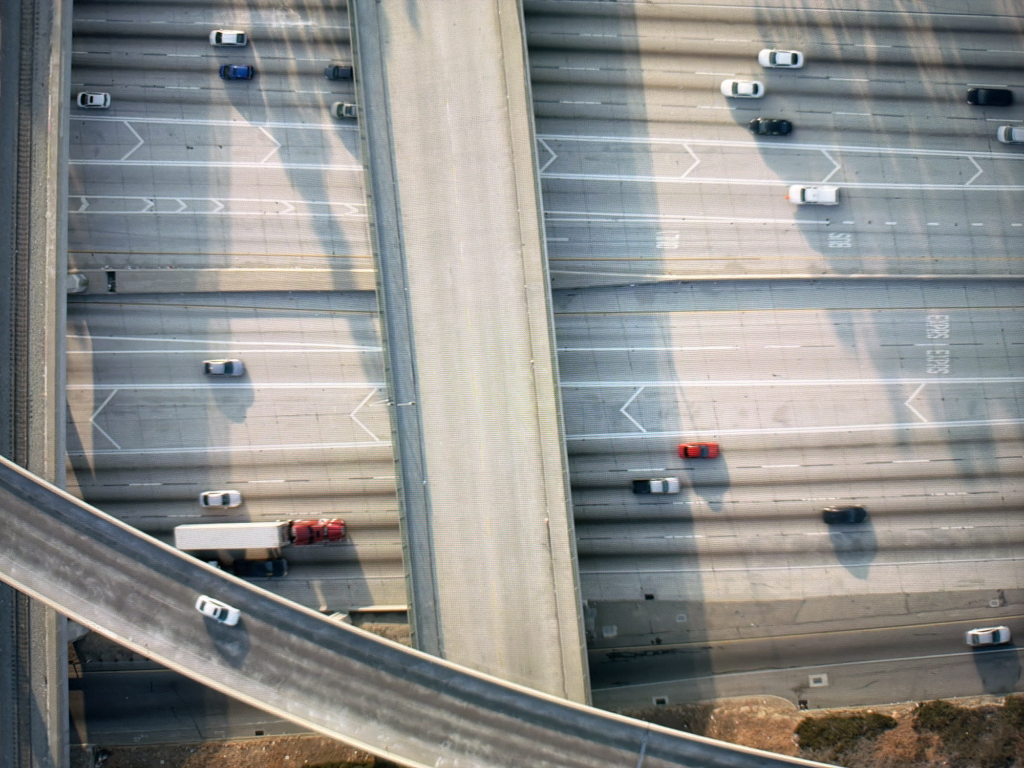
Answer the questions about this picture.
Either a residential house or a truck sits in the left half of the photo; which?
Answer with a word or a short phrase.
truck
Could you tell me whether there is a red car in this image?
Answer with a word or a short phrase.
Yes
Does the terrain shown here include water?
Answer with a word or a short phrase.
No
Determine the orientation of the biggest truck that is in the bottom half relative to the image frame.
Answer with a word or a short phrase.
from left to right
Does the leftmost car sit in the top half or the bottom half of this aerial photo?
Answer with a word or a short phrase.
top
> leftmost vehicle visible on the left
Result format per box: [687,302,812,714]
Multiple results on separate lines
[76,89,113,109]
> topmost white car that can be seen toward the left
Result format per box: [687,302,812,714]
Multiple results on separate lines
[209,27,249,48]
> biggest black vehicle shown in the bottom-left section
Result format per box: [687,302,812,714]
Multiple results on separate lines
[231,557,290,580]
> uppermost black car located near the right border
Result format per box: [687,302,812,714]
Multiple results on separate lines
[966,85,1015,107]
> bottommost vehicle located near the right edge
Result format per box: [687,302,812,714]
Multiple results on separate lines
[965,625,1011,646]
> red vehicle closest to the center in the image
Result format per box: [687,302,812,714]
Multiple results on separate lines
[678,442,720,461]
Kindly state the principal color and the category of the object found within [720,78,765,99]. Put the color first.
white car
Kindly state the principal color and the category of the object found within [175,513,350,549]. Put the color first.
white truck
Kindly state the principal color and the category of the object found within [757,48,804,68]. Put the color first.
white car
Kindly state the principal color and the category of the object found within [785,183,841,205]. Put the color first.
white truck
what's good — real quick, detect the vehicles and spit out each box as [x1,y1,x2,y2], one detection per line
[966,85,1015,107]
[965,625,1011,646]
[785,183,841,205]
[231,557,290,580]
[197,490,243,510]
[323,61,360,83]
[175,513,350,549]
[996,124,1024,144]
[631,476,680,497]
[201,359,246,378]
[330,99,363,119]
[678,442,720,461]
[76,89,113,109]
[218,61,256,81]
[720,78,765,99]
[748,115,793,136]
[757,48,804,68]
[209,27,249,48]
[823,505,868,526]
